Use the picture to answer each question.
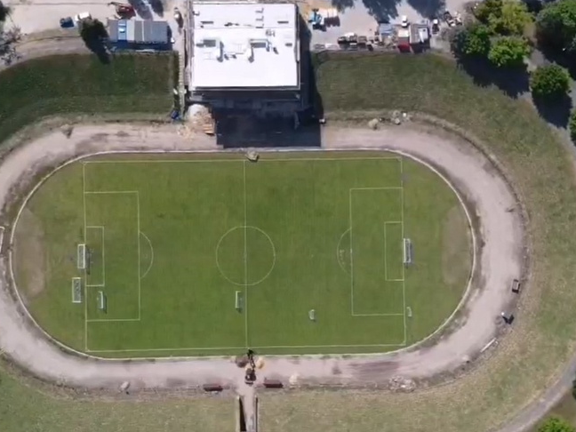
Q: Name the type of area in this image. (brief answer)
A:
sports ground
